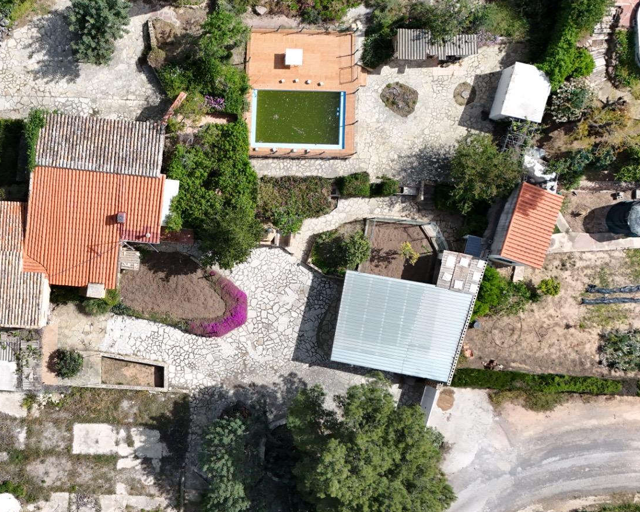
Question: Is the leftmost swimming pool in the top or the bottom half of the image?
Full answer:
The top half of the photo is where the leftmost swimming pool is.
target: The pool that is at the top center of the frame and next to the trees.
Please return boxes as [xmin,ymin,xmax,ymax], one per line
[244,26,366,159]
